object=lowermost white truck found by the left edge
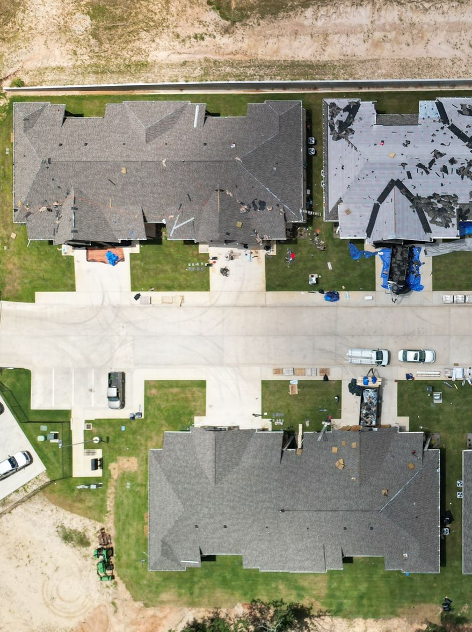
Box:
[0,448,37,479]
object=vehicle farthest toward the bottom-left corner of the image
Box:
[94,544,114,579]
